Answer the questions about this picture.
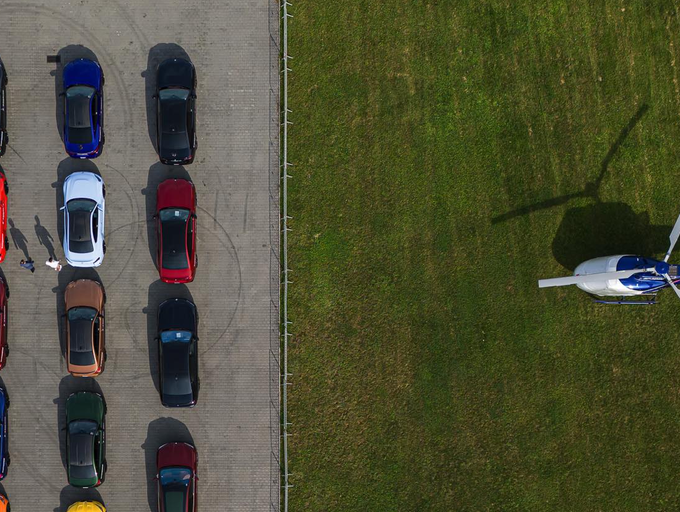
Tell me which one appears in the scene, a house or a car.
car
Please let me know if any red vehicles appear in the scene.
Yes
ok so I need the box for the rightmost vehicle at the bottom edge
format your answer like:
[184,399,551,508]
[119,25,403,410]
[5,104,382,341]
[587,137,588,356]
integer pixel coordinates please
[152,442,201,512]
